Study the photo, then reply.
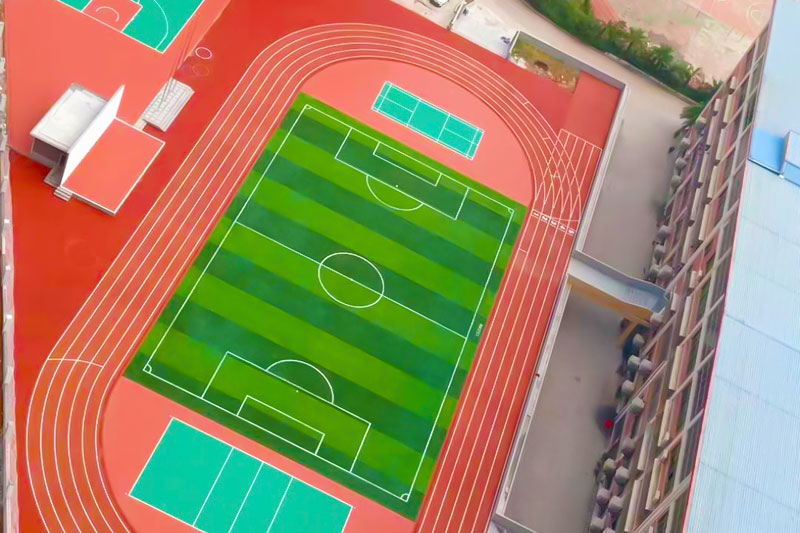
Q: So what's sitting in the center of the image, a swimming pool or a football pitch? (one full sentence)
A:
The one visible in the center of the image is a football pitch.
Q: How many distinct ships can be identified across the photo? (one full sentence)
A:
There are no ships in this view.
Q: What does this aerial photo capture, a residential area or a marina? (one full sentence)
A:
The area seen from above is a residential area.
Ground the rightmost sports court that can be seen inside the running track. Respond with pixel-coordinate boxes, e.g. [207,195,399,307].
[371,80,485,160]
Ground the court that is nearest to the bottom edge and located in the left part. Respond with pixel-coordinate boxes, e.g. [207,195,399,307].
[125,413,357,533]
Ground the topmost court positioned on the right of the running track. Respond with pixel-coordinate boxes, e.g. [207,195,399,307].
[681,0,772,39]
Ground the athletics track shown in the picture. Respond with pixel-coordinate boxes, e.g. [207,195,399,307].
[26,23,602,533]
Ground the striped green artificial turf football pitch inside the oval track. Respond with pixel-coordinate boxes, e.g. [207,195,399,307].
[123,91,527,521]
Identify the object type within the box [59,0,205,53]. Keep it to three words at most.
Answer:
basketball court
